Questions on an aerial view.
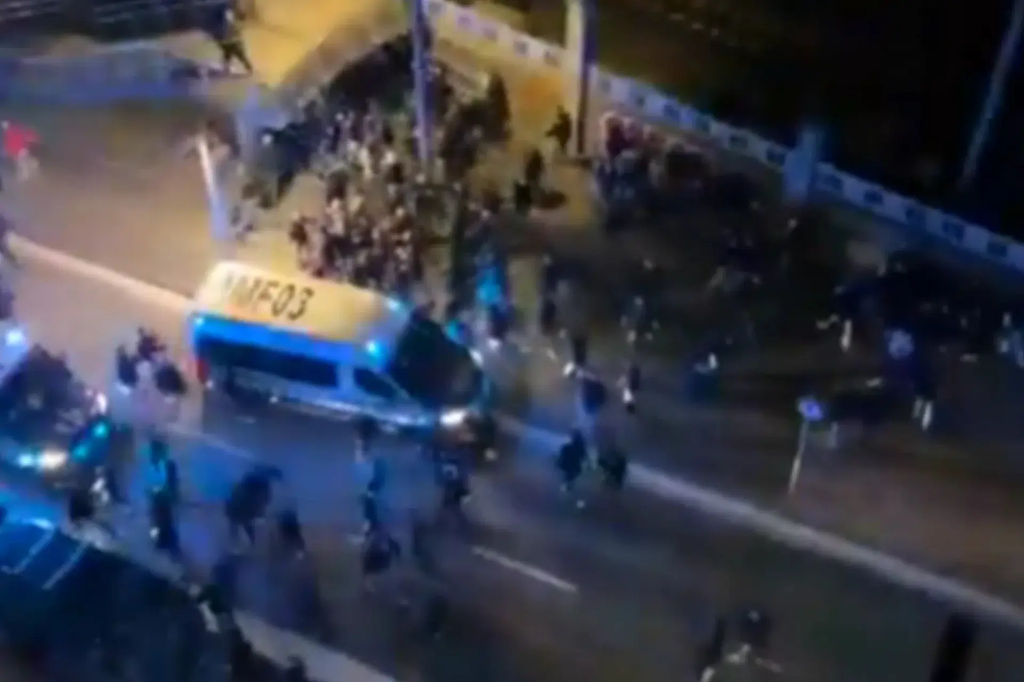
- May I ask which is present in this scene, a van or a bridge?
van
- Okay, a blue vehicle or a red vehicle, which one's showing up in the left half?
blue vehicle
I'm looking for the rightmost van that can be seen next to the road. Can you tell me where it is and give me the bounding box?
[197,254,492,451]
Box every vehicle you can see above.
[0,329,121,490]
[197,254,492,451]
[0,512,222,682]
